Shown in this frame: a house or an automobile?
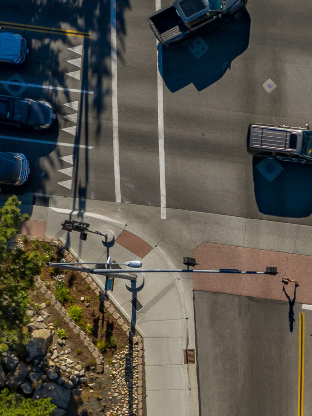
automobile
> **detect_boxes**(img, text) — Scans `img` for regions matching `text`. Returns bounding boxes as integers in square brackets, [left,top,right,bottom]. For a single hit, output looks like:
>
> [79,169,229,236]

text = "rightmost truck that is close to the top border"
[148,0,251,49]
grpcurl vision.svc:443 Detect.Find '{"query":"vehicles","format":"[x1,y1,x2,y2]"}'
[245,122,312,164]
[0,31,30,67]
[148,0,251,49]
[0,90,59,132]
[0,150,33,185]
